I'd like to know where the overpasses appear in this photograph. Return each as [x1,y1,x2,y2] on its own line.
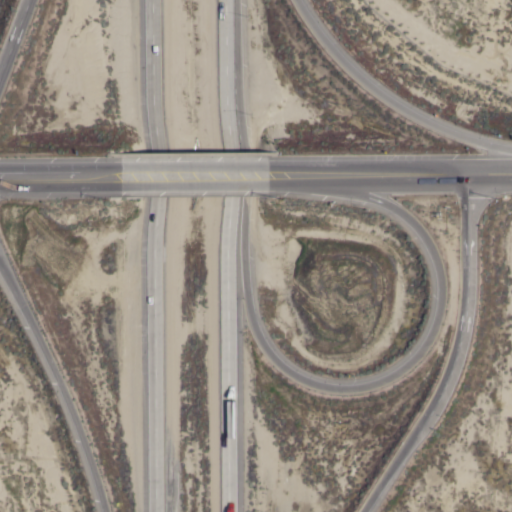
[110,152,282,198]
